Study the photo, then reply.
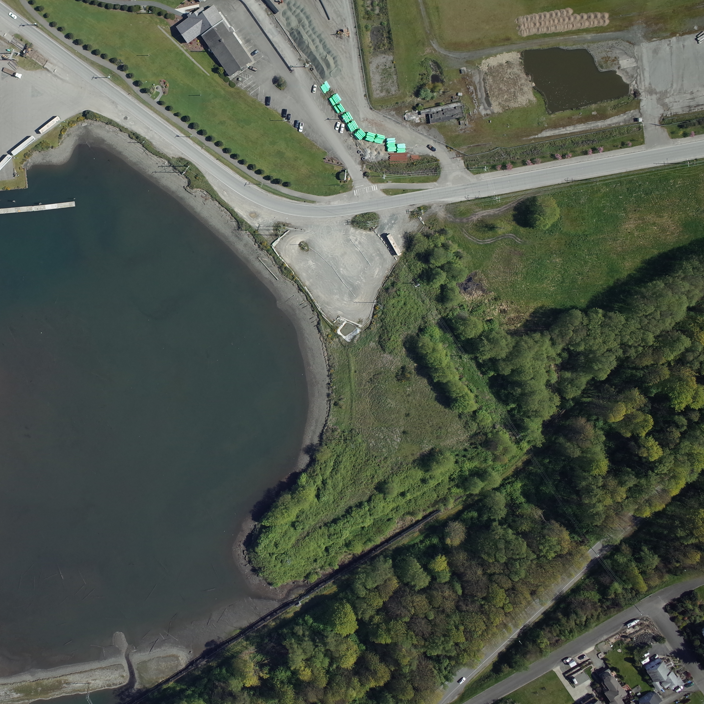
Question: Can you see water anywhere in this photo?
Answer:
Yes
